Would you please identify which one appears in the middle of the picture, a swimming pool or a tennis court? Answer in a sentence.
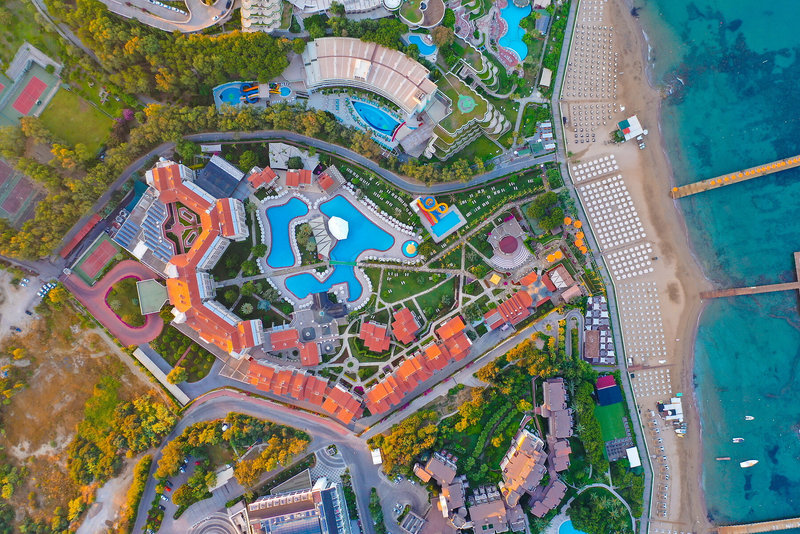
The one visible in the middle of the picture is a swimming pool.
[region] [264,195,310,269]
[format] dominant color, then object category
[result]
blue swimming pool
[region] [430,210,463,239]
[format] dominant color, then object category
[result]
blue swimming pool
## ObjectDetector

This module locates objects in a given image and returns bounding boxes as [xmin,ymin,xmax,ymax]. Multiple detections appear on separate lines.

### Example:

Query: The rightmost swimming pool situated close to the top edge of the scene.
[498,0,533,62]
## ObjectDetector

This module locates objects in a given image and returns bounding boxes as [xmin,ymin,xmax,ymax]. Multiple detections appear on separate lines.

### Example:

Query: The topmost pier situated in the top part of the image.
[671,155,800,199]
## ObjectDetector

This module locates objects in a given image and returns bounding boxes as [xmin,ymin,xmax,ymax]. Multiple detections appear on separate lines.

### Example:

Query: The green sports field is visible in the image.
[600,402,628,442]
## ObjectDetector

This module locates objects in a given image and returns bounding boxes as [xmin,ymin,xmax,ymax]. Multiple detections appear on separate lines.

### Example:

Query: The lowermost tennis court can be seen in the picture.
[72,233,122,286]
